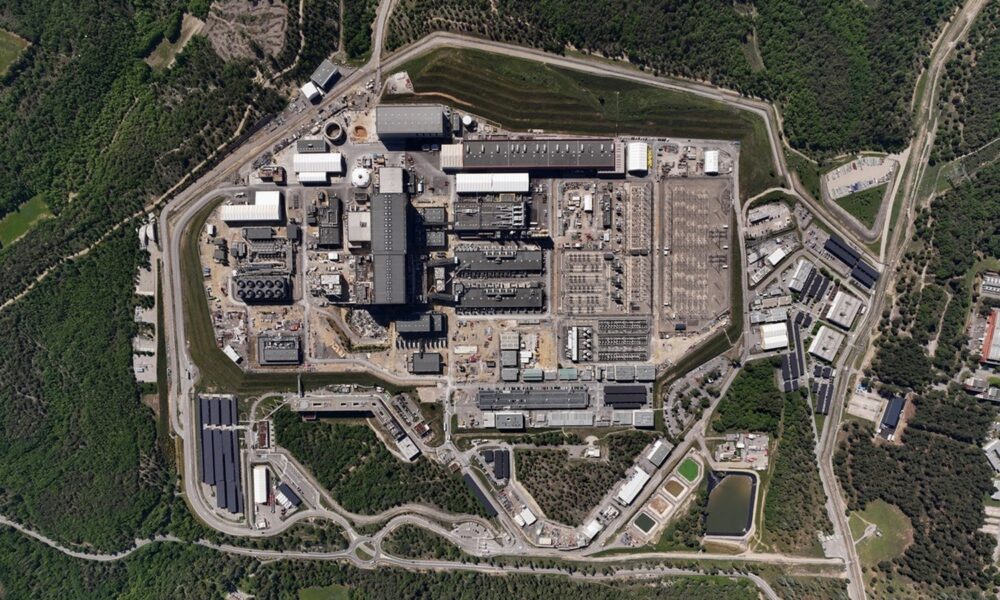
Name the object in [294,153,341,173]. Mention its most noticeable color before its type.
white tent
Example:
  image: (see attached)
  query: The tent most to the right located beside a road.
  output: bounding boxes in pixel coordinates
[704,150,719,173]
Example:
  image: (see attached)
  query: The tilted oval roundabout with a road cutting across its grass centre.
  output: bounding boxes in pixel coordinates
[350,536,381,566]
